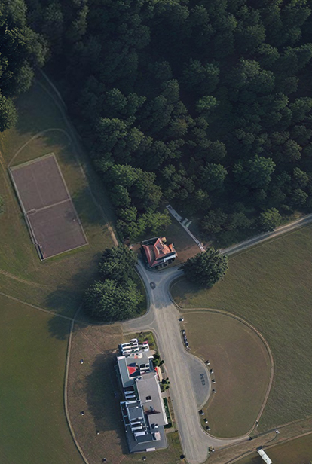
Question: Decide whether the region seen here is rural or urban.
rural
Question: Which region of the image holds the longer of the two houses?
bottom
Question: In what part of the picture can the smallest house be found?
center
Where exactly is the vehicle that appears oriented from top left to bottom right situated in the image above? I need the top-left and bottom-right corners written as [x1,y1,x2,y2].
[257,448,272,464]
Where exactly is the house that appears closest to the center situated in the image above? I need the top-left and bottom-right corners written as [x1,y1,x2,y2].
[141,236,177,270]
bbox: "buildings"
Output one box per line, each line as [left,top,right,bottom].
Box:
[141,236,177,270]
[114,350,170,453]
